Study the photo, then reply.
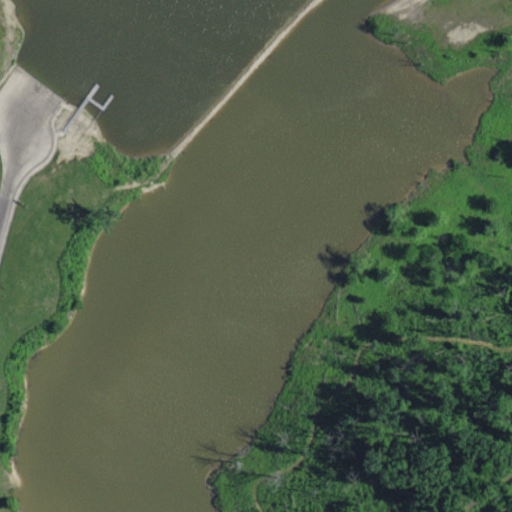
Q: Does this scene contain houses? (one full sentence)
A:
No, the frame has no house in it.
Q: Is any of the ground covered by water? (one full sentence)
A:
Yes, there is water in the image.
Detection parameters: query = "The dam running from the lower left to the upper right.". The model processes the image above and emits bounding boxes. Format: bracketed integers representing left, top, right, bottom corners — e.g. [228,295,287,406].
[160,0,330,170]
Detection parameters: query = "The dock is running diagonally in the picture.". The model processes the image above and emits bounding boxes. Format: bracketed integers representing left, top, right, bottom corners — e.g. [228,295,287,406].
[61,84,114,138]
